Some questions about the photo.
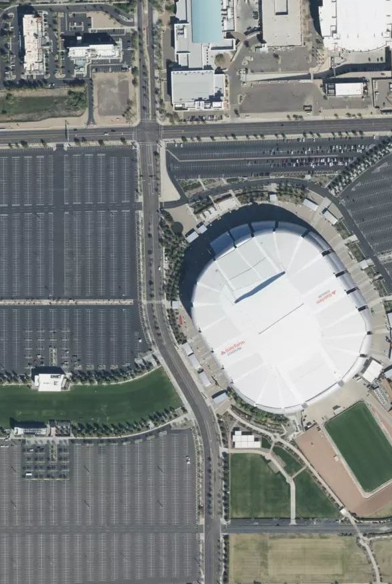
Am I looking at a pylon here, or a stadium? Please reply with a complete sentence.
Of the two, only a stadium appears.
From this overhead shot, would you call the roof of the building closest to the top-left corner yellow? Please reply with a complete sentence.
No, the color of the roof of the building closest to the top-left corner is white.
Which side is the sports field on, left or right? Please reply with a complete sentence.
You can find the sports field on the right side of the picture.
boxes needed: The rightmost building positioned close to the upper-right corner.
[328,83,364,95]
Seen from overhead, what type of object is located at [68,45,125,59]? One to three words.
building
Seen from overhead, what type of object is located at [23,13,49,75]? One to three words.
building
